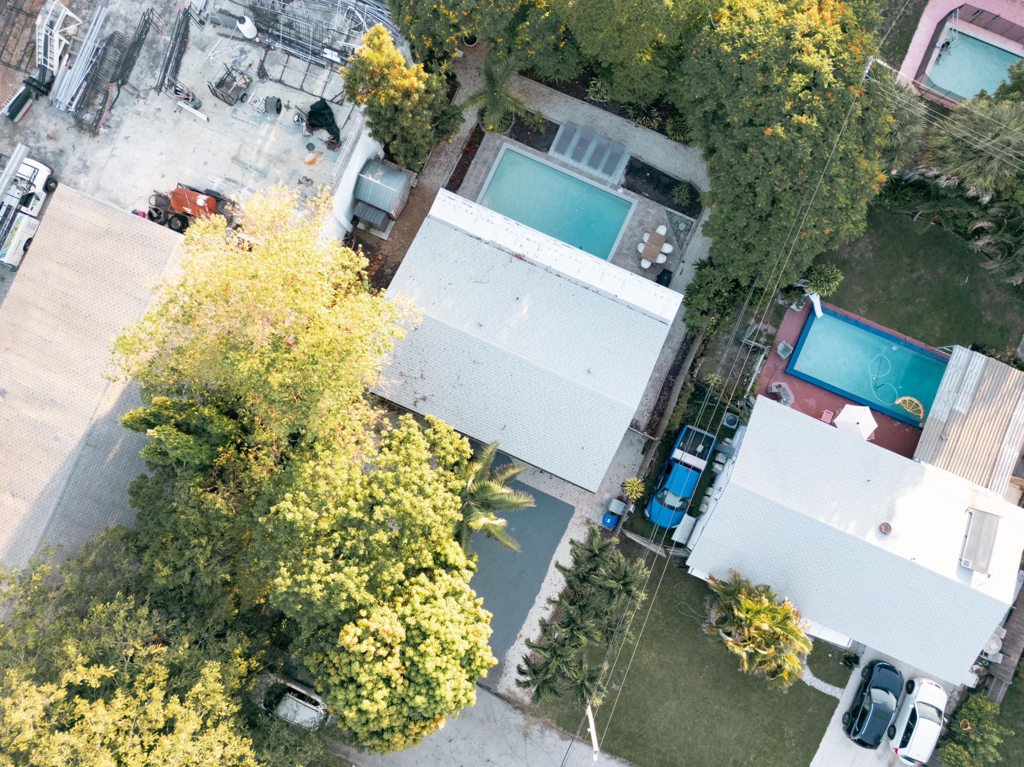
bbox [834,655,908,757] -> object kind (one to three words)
car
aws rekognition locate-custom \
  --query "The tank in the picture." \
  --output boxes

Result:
[228,11,254,41]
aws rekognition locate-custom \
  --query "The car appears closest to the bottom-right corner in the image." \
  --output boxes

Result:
[882,671,955,767]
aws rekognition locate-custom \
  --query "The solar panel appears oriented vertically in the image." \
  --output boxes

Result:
[959,500,1005,596]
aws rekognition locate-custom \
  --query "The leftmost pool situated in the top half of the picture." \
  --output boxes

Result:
[477,142,637,259]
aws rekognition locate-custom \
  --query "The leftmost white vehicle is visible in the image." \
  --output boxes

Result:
[0,149,62,266]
